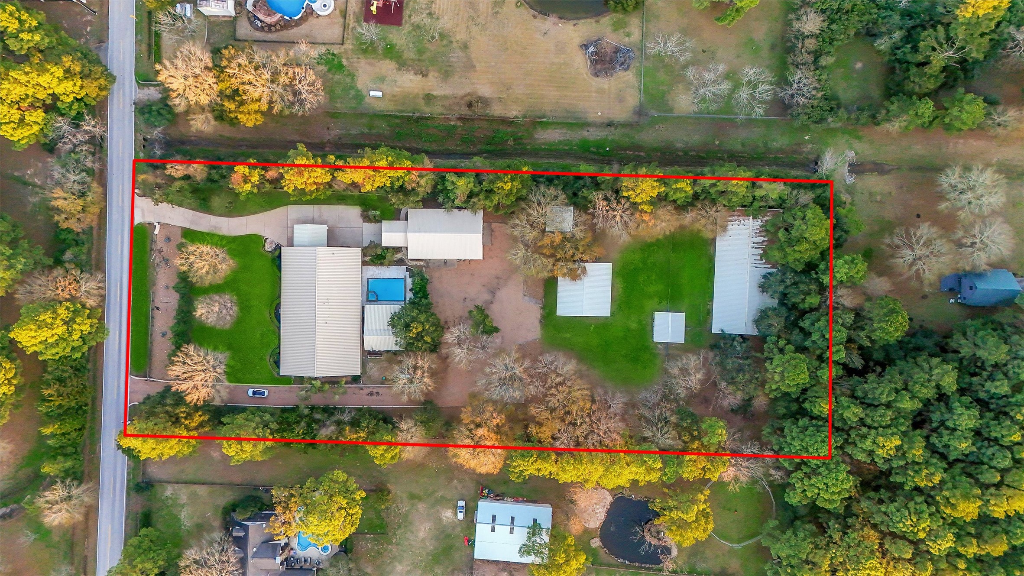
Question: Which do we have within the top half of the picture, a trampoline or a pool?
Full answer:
There is a pool within the top half of the picture.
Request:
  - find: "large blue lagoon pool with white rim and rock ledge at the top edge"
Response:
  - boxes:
[246,0,309,24]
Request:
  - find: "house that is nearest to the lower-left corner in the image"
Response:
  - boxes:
[229,513,315,576]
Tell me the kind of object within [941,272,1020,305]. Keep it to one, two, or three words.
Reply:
house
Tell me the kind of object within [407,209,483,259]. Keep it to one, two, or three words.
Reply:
house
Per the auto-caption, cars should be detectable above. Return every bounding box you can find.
[456,501,466,522]
[247,388,267,398]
